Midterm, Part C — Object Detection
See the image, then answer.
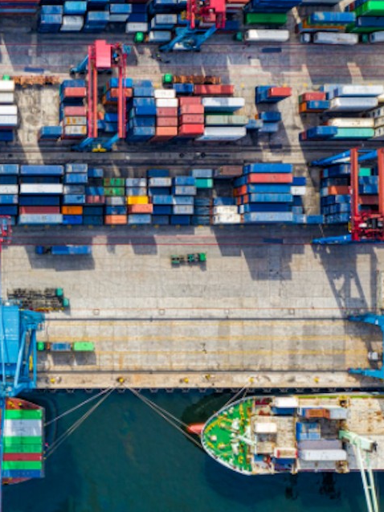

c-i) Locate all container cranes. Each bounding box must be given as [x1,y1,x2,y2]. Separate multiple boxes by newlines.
[306,149,384,250]
[350,312,384,380]
[68,35,128,155]
[158,0,227,54]
[0,197,40,512]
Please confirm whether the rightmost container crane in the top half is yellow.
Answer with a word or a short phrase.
No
